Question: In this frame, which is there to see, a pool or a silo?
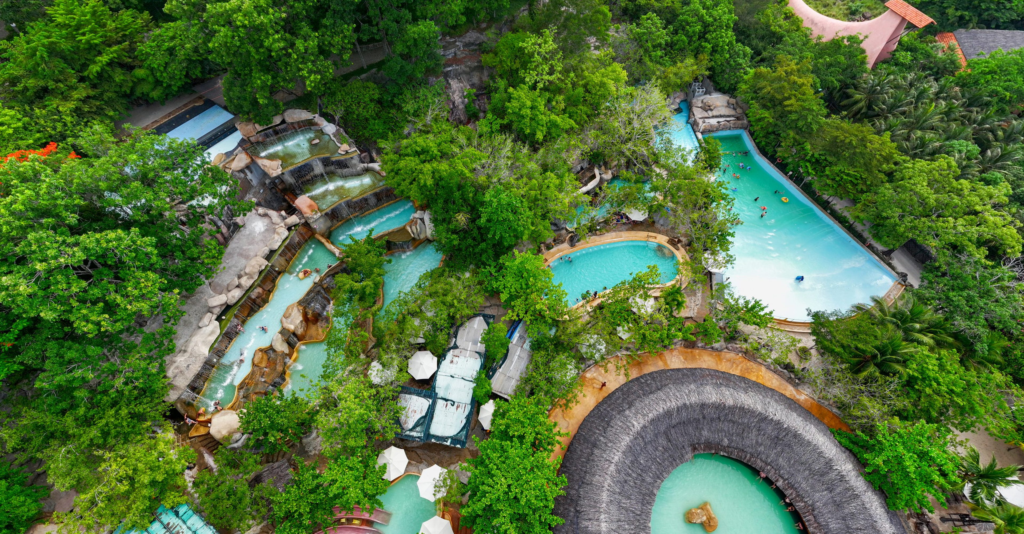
pool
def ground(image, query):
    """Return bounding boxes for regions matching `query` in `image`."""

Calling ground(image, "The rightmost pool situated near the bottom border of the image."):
[650,453,808,534]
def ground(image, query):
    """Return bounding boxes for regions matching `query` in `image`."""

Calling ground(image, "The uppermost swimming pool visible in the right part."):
[651,104,716,192]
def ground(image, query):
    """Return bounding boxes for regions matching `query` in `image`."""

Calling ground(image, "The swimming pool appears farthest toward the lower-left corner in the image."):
[366,470,445,534]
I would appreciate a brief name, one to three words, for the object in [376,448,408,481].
umbrella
